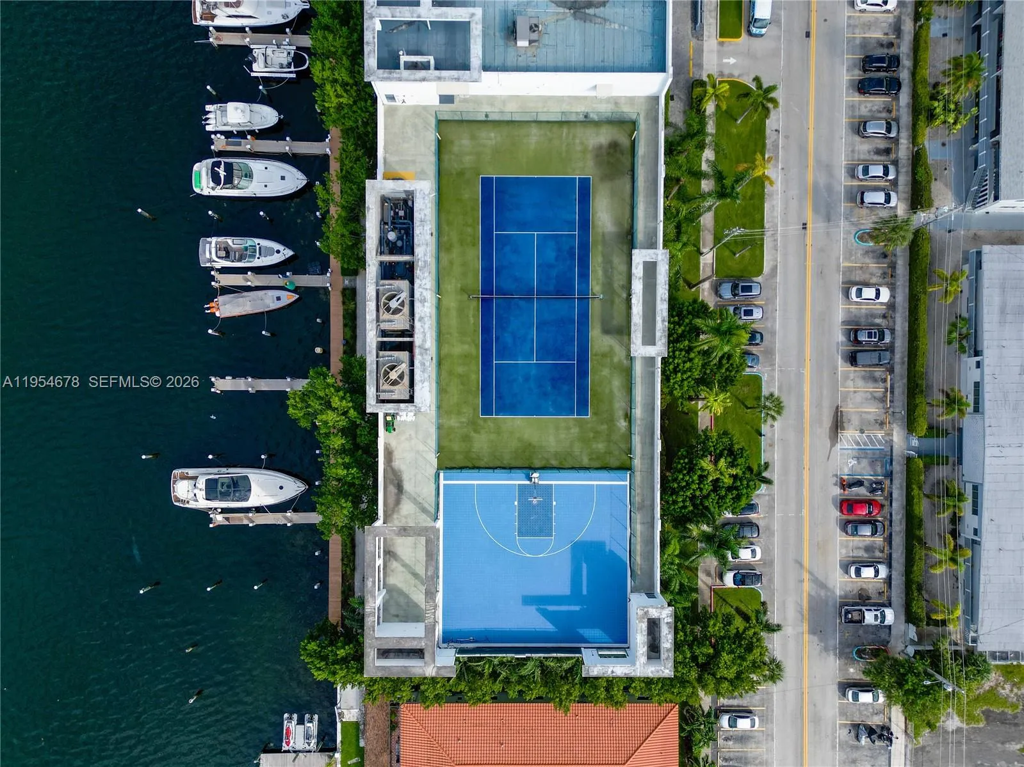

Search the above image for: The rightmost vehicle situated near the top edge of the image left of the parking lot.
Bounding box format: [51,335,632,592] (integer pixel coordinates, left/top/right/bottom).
[748,0,773,40]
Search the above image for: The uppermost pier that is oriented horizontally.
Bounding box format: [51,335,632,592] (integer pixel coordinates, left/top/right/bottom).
[209,26,325,55]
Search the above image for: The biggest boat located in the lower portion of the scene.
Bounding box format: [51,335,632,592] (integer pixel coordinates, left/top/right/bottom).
[172,468,309,513]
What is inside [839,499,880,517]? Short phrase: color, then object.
red car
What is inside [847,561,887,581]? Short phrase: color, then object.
white car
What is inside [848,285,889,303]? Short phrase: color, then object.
white car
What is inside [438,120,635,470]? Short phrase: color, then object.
green tennis court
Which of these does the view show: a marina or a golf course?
marina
